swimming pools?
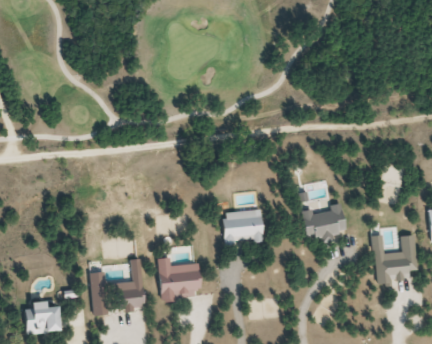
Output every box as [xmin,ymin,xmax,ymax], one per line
[234,191,258,208]
[380,226,400,251]
[304,180,330,210]
[170,246,194,264]
[32,276,55,298]
[102,264,130,283]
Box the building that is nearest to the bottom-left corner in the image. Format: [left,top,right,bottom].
[25,302,62,335]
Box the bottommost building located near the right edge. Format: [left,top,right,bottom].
[372,224,419,287]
